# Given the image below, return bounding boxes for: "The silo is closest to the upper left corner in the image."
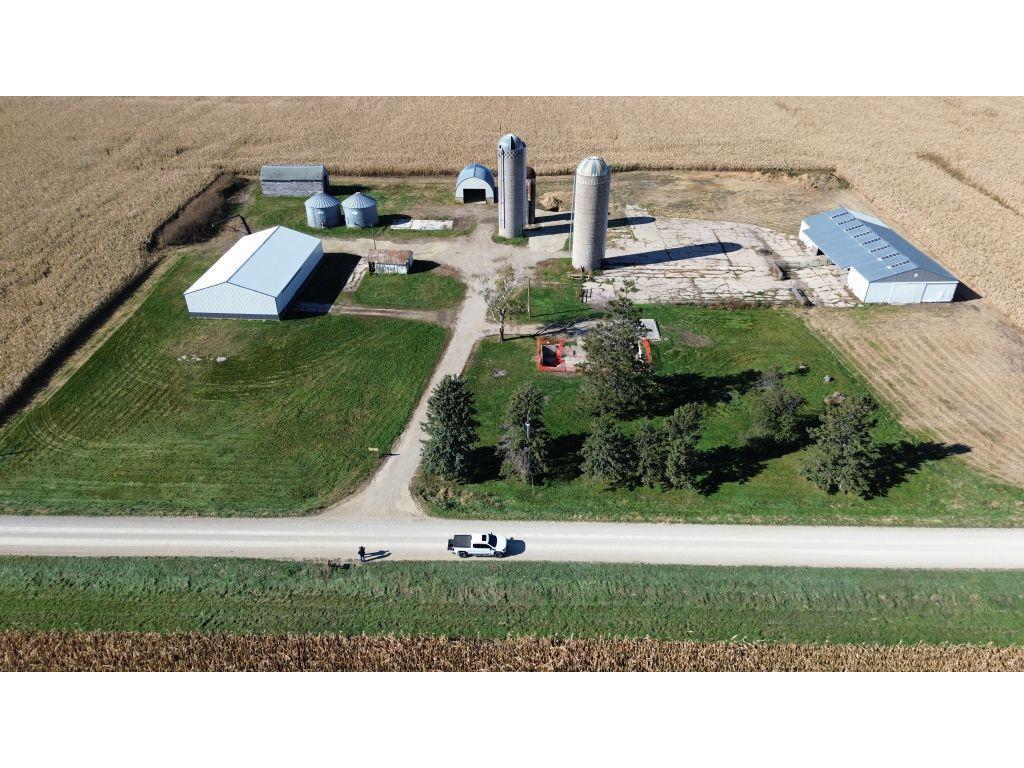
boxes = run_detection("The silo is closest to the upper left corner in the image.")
[303,193,341,229]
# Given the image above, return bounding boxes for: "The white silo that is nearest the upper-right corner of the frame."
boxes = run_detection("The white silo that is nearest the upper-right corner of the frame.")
[569,157,612,272]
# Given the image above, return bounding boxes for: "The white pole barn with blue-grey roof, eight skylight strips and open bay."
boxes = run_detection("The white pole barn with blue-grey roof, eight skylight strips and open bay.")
[801,205,962,302]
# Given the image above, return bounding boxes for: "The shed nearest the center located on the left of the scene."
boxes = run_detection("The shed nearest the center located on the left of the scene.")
[368,247,412,274]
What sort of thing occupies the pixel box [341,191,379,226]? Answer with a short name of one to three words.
silo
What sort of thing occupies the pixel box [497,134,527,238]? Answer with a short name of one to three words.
silo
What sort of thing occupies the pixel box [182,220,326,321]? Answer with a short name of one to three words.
shed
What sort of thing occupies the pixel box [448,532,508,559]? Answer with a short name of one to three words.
truck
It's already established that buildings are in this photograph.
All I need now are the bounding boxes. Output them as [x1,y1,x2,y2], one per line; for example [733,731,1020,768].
[456,162,495,203]
[258,163,332,195]
[801,205,962,302]
[368,247,412,274]
[182,220,326,321]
